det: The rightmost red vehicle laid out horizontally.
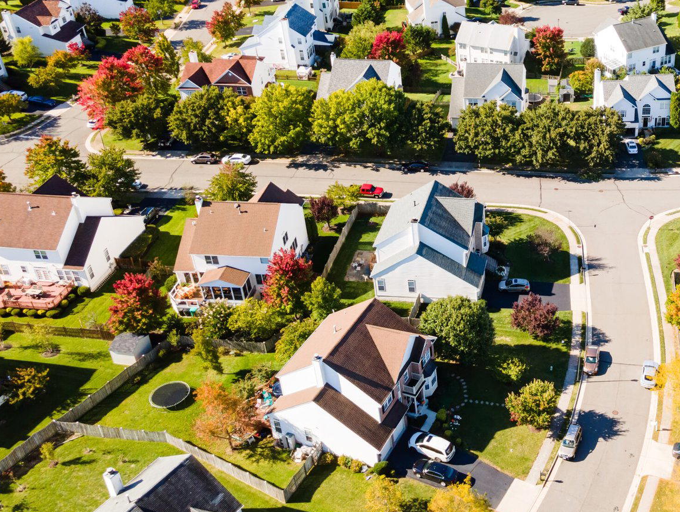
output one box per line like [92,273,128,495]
[352,183,385,199]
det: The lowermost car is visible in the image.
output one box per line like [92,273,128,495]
[414,464,460,489]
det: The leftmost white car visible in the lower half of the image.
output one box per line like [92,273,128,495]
[409,434,453,461]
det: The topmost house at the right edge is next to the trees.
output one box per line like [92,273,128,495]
[594,9,677,79]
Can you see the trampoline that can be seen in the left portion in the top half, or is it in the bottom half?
bottom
